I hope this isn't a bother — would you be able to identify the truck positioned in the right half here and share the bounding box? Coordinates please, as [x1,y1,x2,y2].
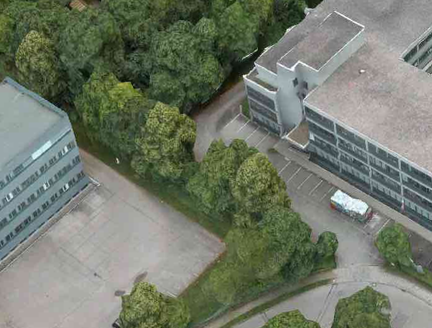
[330,186,373,225]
